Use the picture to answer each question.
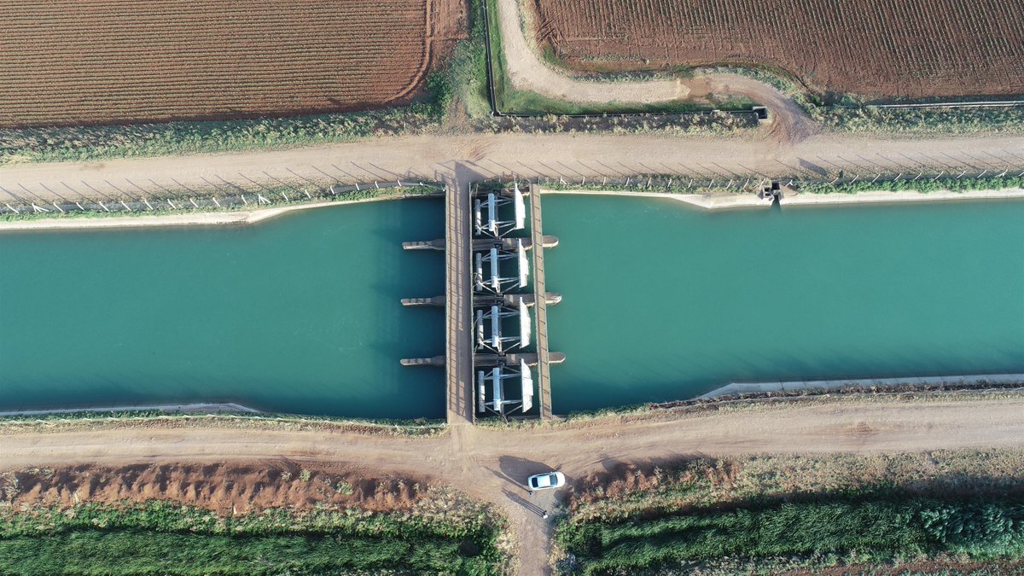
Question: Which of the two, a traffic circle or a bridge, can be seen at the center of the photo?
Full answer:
What appears at the center of the photo is a bridge.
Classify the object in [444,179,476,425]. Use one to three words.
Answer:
bridge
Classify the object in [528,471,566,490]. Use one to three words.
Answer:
car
